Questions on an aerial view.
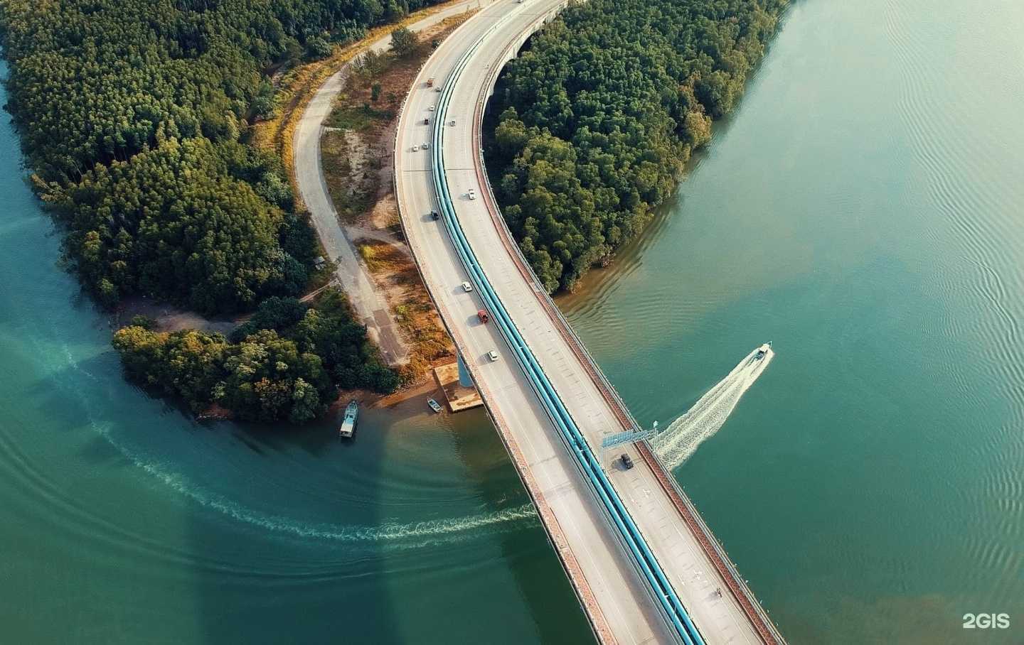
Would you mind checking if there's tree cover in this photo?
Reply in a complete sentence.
Yes, tree cover can be seen from above here.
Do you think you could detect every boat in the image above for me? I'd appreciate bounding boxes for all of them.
[428,398,443,414]
[338,398,355,436]
[756,339,773,359]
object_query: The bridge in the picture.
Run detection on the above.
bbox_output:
[393,0,789,645]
